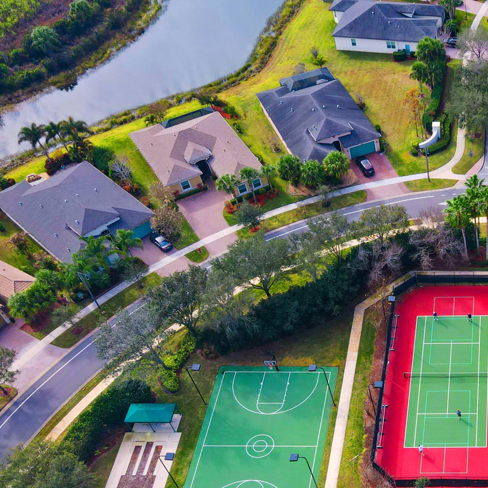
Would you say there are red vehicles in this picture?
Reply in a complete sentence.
No, the picture doesn't show any red vehicle.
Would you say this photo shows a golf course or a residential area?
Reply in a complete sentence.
This image shows a residential area.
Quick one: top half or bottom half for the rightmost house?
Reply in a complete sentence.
The top half of the photo is where the rightmost house is.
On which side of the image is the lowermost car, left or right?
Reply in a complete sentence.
The lowermost car is on the left side of the image.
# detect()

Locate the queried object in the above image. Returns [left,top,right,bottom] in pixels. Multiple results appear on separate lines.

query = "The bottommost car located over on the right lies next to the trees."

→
[354,156,374,174]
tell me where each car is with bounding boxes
[148,230,173,250]
[354,156,374,174]
[445,34,465,45]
